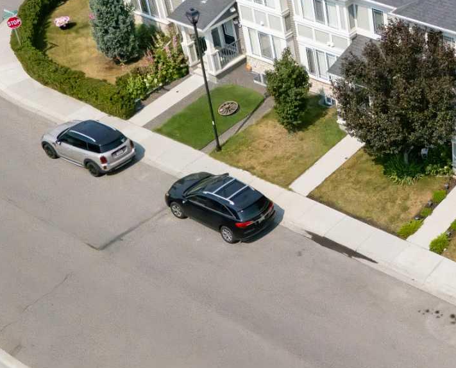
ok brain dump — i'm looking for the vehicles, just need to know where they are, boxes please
[162,172,275,248]
[42,117,135,181]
